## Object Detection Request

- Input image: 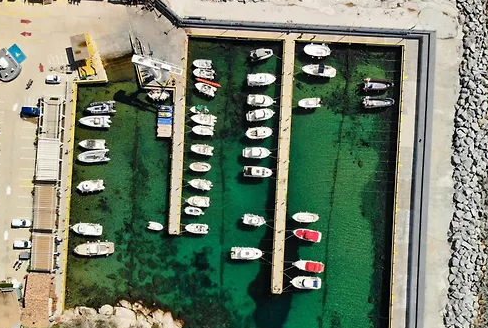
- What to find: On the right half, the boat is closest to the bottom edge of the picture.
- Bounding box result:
[283,273,321,290]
